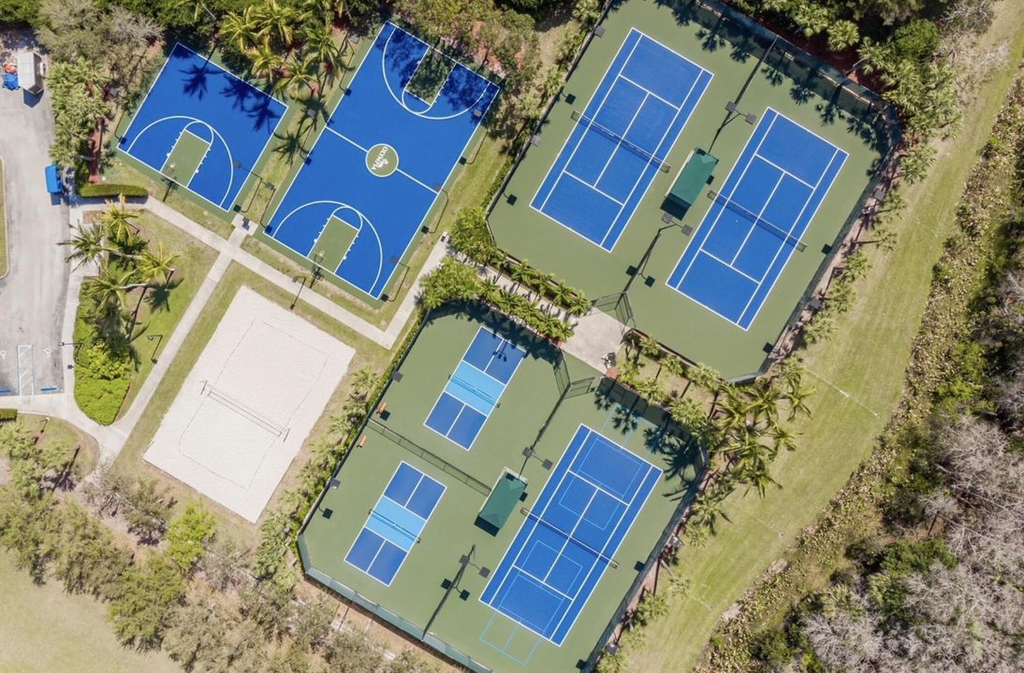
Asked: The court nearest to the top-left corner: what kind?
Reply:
basketball court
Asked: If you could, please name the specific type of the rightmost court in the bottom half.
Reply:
tennis court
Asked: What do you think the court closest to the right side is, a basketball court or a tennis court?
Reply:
tennis court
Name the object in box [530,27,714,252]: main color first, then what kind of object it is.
blue tennis court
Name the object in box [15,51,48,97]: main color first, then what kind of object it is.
white trailer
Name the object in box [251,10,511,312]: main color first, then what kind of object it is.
blue basketball court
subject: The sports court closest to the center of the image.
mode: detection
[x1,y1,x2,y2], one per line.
[423,325,527,452]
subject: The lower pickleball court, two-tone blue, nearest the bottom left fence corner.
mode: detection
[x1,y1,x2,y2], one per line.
[344,461,447,587]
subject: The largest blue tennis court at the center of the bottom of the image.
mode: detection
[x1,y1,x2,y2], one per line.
[479,408,663,663]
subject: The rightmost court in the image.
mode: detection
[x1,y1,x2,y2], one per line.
[665,106,849,331]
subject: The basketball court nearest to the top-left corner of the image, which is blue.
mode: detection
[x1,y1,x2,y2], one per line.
[109,36,300,224]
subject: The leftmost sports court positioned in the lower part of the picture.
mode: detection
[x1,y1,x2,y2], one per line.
[143,286,356,523]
